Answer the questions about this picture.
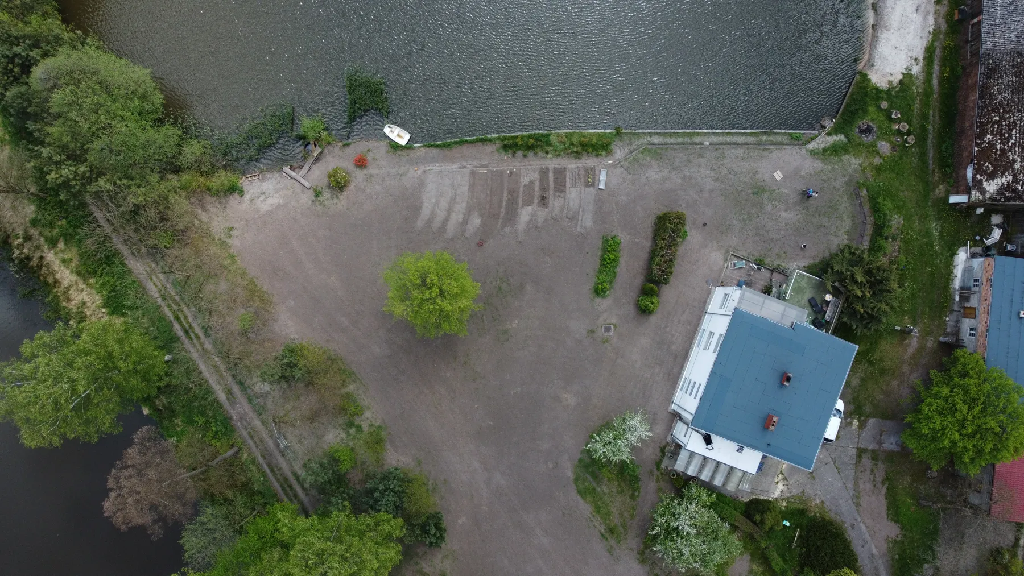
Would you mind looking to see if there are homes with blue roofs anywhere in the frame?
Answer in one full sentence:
Yes, I can see a home with a blue roof in this picture.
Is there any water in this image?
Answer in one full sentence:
Yes, water can be seen from above here.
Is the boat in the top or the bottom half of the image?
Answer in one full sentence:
Seen from above, the boat lies in the top half of the view.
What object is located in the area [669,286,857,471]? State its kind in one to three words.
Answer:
house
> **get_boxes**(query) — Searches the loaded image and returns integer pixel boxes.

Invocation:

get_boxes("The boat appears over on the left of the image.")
[384,124,412,147]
